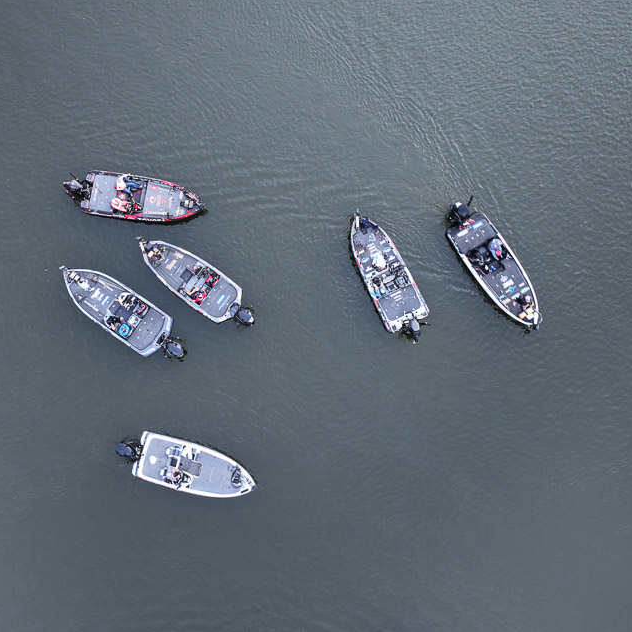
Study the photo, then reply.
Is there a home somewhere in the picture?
No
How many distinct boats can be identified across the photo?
6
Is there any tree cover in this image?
No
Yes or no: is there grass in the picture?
No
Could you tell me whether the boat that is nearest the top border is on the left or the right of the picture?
left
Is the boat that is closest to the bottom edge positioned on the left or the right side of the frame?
left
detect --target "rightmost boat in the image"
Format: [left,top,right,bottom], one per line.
[445,194,544,332]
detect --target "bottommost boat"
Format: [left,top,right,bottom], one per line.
[115,429,258,496]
